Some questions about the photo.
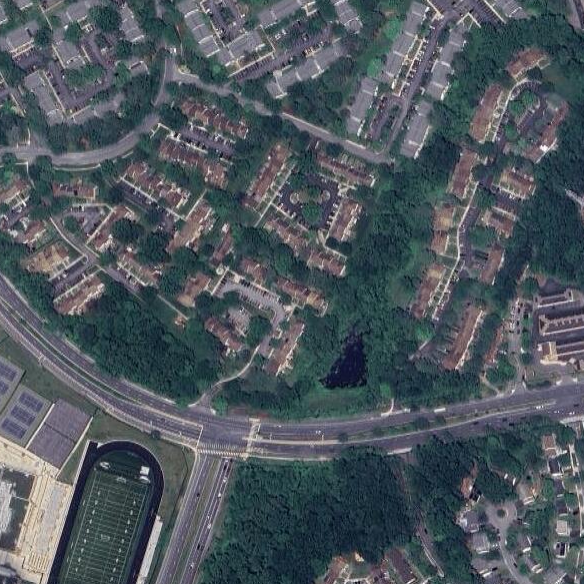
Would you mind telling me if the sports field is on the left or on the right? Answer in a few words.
left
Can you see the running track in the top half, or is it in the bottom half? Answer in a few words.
bottom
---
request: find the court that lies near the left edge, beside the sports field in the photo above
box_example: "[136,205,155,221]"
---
[28,399,91,461]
